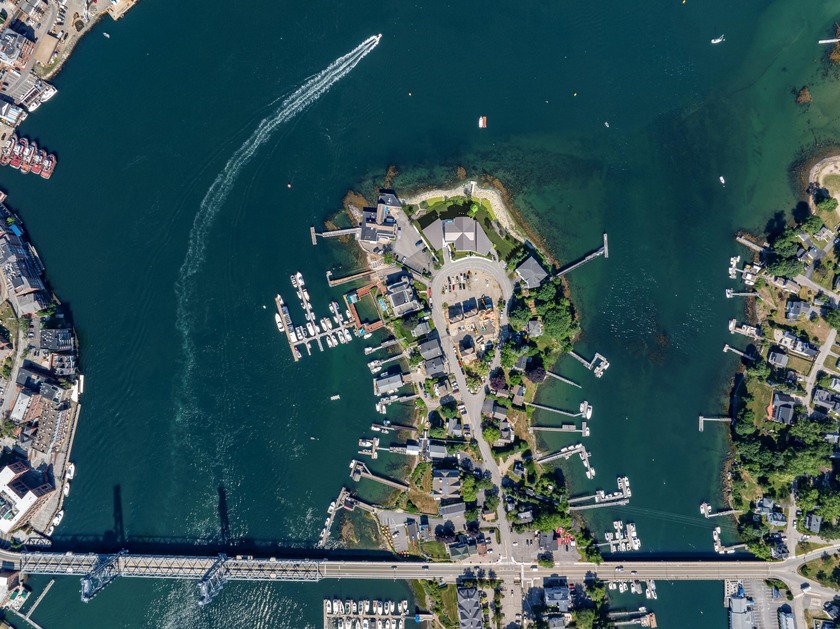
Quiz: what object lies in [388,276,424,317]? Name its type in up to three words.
house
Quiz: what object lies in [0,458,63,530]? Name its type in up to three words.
building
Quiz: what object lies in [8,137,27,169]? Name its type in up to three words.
boat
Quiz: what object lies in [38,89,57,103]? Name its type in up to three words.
ship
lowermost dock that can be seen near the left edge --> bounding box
[7,577,56,629]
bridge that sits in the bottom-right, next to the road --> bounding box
[600,559,764,580]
